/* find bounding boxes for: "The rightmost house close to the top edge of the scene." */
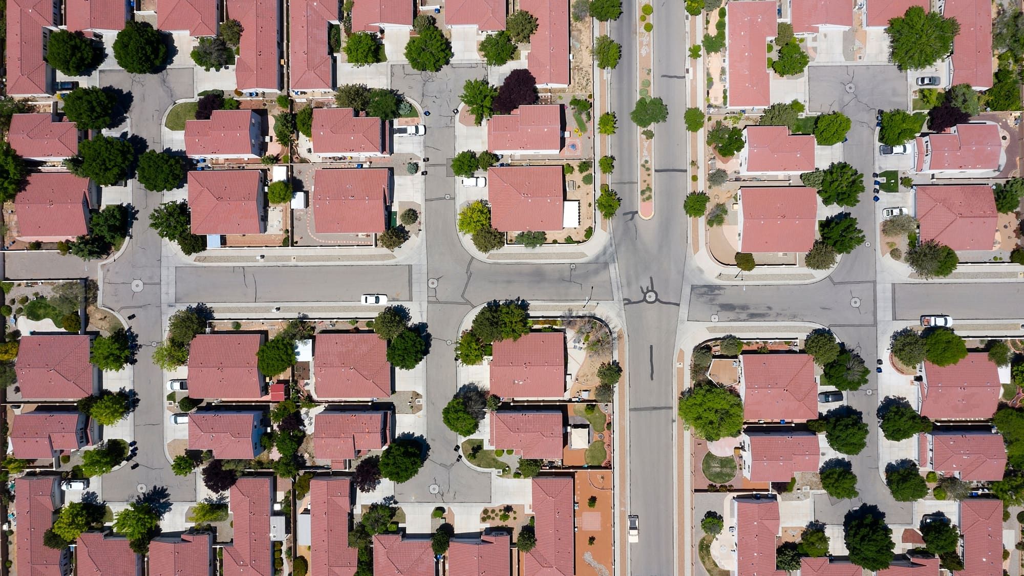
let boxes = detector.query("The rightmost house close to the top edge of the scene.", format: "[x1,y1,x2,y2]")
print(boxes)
[938,0,992,89]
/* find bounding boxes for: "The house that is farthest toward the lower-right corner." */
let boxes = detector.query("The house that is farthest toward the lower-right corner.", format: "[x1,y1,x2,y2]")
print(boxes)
[947,498,1003,576]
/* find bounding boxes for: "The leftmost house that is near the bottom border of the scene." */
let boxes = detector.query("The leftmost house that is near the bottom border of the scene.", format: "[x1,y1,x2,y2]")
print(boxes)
[15,476,67,576]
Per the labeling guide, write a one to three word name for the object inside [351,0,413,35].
house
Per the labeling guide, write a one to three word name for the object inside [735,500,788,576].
house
